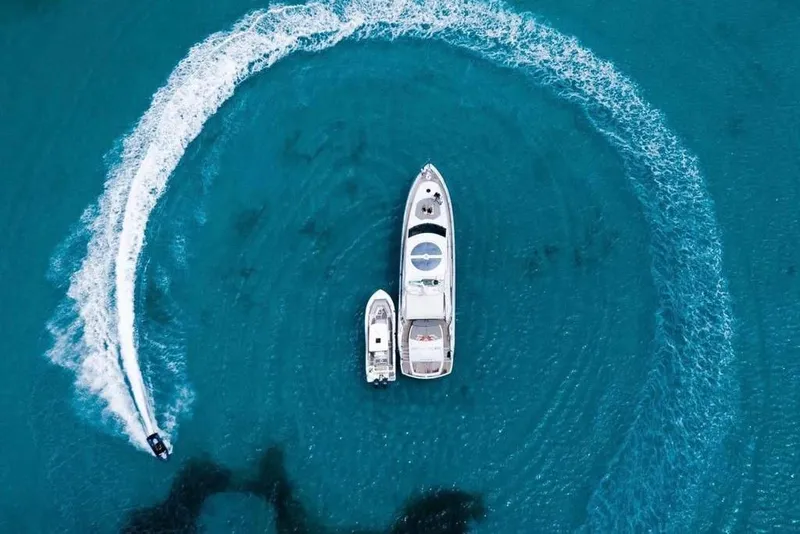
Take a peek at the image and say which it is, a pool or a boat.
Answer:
boat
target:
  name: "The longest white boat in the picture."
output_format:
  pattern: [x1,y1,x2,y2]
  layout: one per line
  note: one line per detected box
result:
[399,162,455,379]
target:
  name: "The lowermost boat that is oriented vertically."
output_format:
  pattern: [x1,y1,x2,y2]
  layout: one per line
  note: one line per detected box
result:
[365,289,396,385]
